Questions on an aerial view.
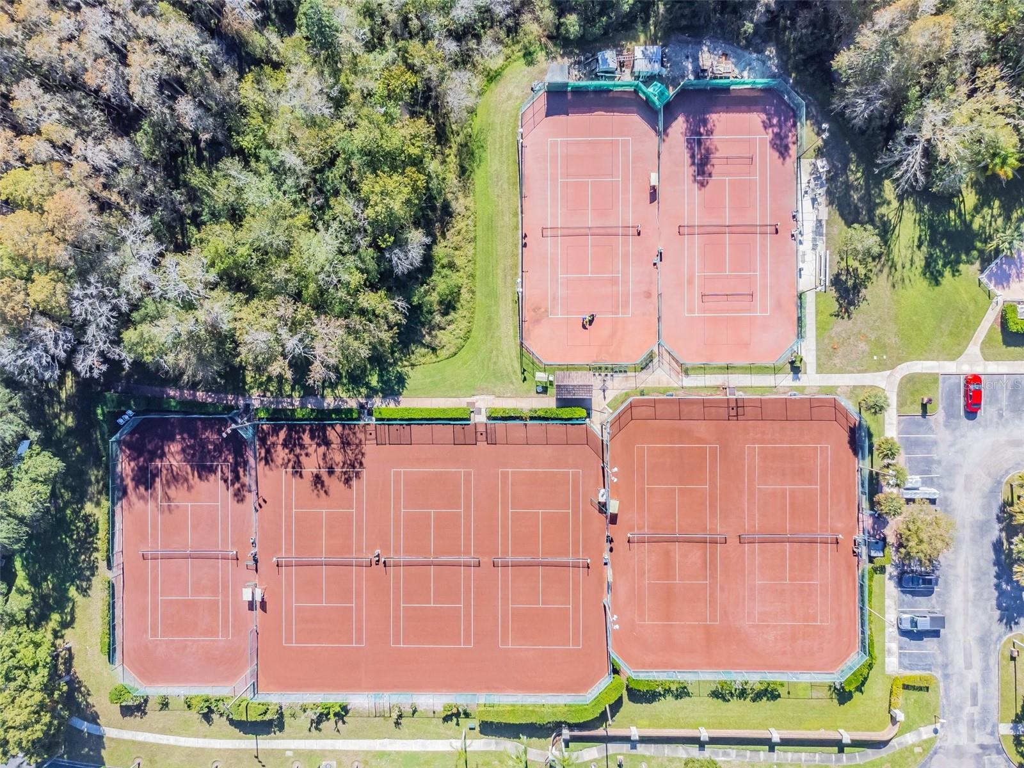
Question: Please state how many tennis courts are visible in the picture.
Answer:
8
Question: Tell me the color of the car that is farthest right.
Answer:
red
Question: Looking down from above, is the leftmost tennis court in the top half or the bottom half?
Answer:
bottom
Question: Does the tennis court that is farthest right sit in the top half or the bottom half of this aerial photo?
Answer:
bottom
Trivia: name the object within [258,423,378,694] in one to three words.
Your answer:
tennis court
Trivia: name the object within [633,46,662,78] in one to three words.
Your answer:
shed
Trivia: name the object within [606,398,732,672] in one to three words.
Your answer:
tennis court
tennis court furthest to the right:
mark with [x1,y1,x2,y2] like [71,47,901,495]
[732,398,860,672]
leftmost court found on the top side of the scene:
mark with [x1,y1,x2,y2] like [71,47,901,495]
[522,90,660,364]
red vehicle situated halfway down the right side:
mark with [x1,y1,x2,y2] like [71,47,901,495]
[964,374,985,411]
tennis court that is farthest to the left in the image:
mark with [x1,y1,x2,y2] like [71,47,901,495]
[122,419,257,686]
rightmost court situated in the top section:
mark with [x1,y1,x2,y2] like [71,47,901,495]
[660,88,799,364]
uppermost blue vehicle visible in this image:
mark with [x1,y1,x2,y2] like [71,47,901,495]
[901,572,942,590]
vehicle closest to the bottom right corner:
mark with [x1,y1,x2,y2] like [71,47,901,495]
[897,614,946,633]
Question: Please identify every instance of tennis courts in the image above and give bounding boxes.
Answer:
[660,88,799,364]
[732,398,860,672]
[486,423,609,694]
[606,398,732,672]
[378,423,486,694]
[258,423,378,694]
[522,90,660,364]
[122,419,257,686]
